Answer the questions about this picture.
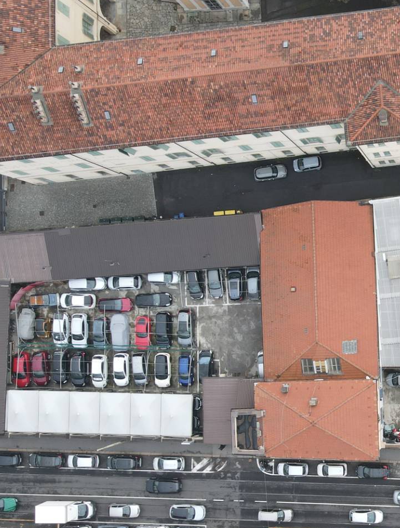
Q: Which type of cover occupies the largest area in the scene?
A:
buildings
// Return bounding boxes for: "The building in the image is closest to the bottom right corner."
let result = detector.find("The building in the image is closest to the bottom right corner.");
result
[255,377,384,461]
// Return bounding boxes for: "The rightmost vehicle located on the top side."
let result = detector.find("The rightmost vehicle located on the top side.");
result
[293,157,322,173]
